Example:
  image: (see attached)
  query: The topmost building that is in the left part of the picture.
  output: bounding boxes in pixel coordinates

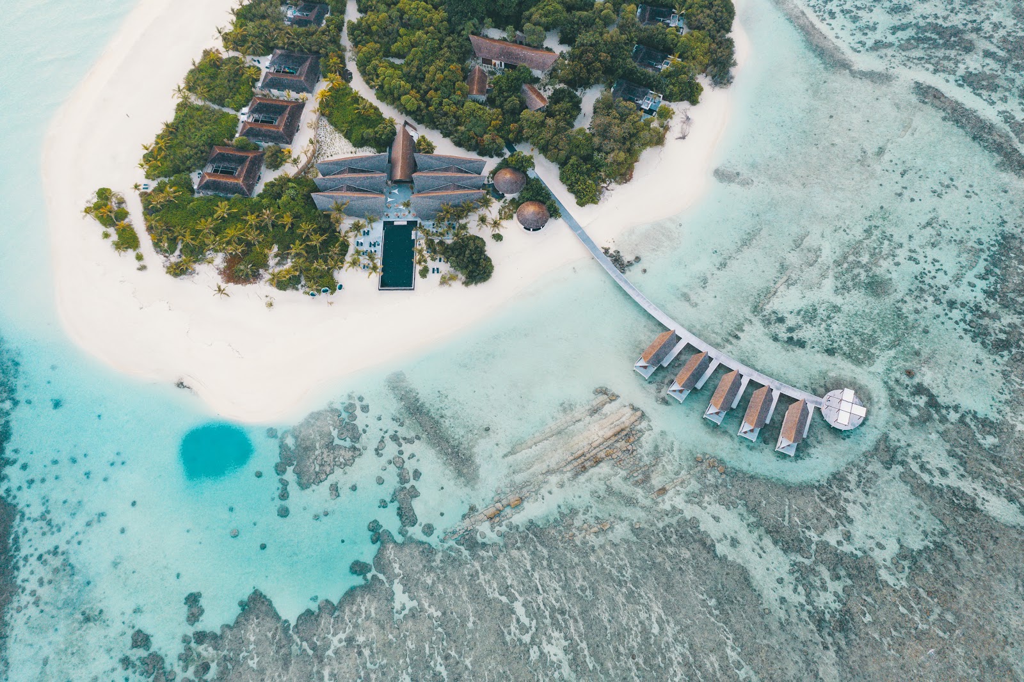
[289,0,329,30]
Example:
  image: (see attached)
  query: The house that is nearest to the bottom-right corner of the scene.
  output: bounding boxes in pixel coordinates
[773,399,808,462]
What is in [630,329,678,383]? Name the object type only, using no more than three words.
house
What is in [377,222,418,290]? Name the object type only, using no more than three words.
swimming pool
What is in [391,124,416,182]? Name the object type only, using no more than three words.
building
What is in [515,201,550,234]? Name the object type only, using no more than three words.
shed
